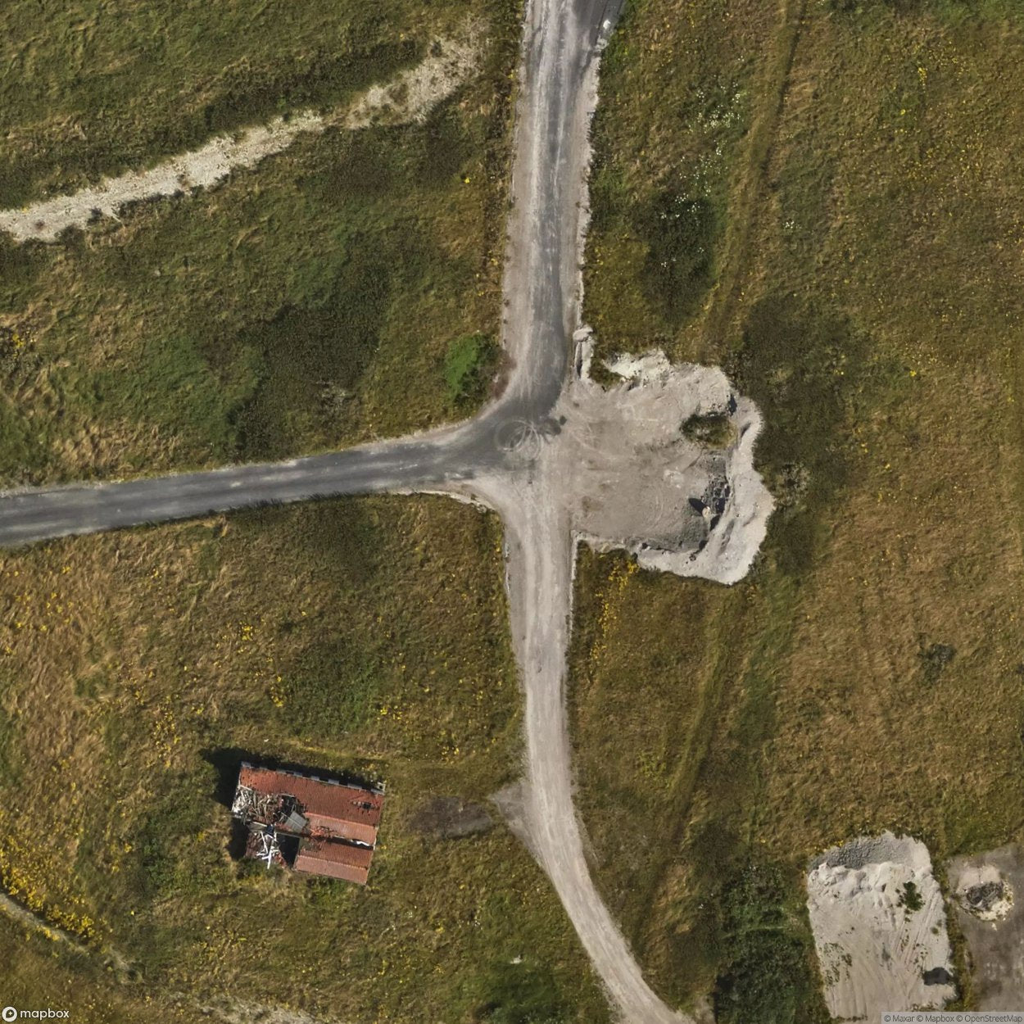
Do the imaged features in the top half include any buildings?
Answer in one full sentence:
No, the scene shows no building in the top half.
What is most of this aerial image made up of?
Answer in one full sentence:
The scene is dominated by grass.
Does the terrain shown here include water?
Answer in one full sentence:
No, water can't be seen anywhere here.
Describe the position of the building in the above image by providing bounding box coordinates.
[227,763,384,887]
